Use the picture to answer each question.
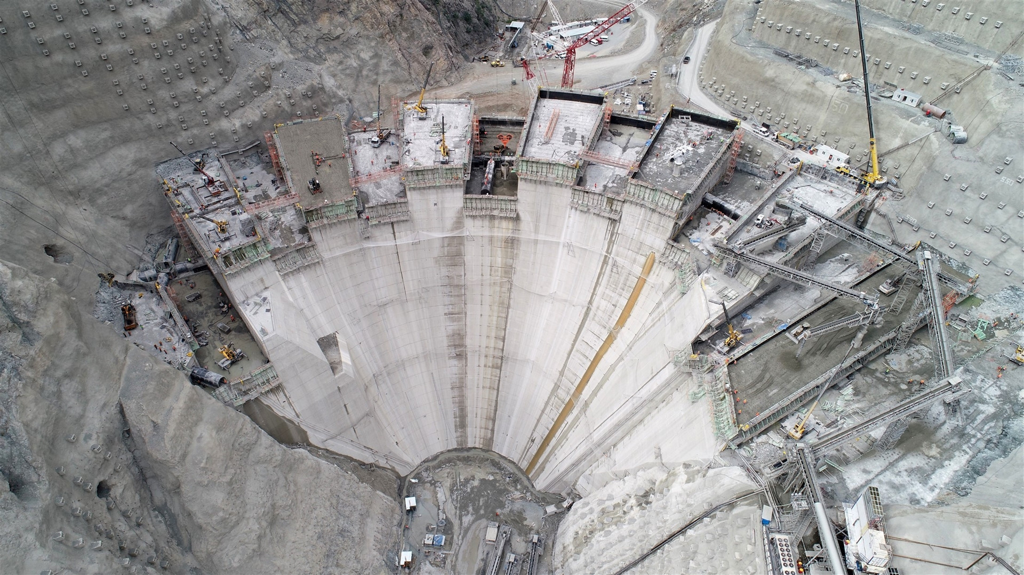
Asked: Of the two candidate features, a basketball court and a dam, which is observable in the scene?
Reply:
dam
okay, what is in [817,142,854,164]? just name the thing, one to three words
shed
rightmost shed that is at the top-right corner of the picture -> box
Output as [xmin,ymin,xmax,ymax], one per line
[892,88,920,107]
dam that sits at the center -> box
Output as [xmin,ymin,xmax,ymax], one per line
[169,98,963,525]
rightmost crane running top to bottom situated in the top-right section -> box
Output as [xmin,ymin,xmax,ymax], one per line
[838,0,895,189]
